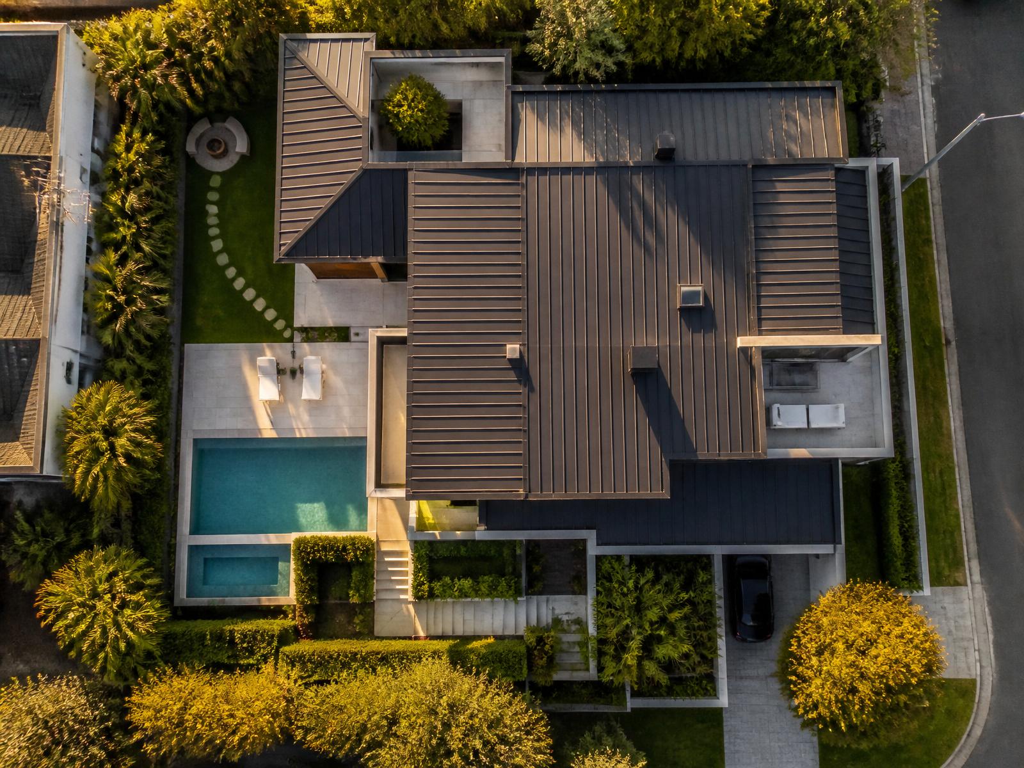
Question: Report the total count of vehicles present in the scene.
one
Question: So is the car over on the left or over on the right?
right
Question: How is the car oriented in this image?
from top to bottom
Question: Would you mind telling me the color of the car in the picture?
black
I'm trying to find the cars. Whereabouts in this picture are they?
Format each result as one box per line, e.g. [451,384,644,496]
[731,553,774,645]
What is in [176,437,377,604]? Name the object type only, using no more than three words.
swimming pool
